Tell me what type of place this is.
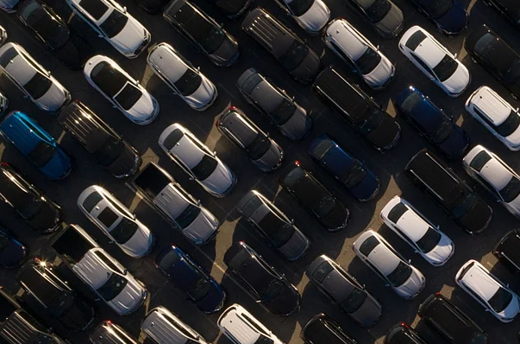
parking lot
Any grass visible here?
No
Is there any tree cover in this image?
No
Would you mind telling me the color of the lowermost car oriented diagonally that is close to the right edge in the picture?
black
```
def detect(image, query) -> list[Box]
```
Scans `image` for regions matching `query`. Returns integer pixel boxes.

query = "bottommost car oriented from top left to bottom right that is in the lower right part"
[416,291,498,344]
